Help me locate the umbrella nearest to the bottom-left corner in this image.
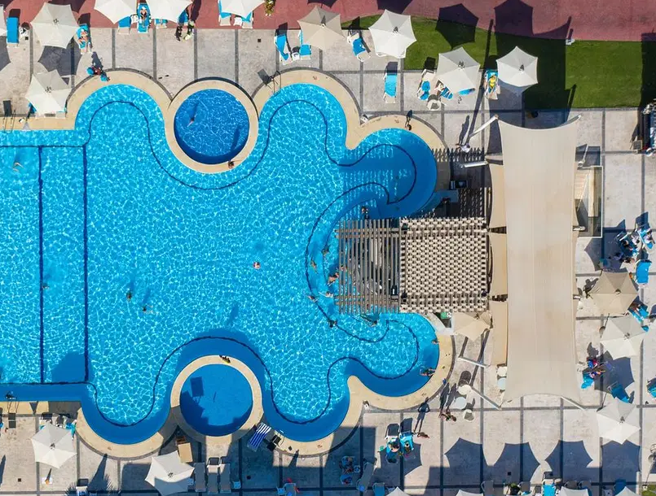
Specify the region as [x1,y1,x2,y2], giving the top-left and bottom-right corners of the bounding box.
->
[31,423,77,470]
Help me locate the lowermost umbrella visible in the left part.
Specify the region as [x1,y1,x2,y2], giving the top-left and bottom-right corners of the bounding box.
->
[148,451,195,496]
